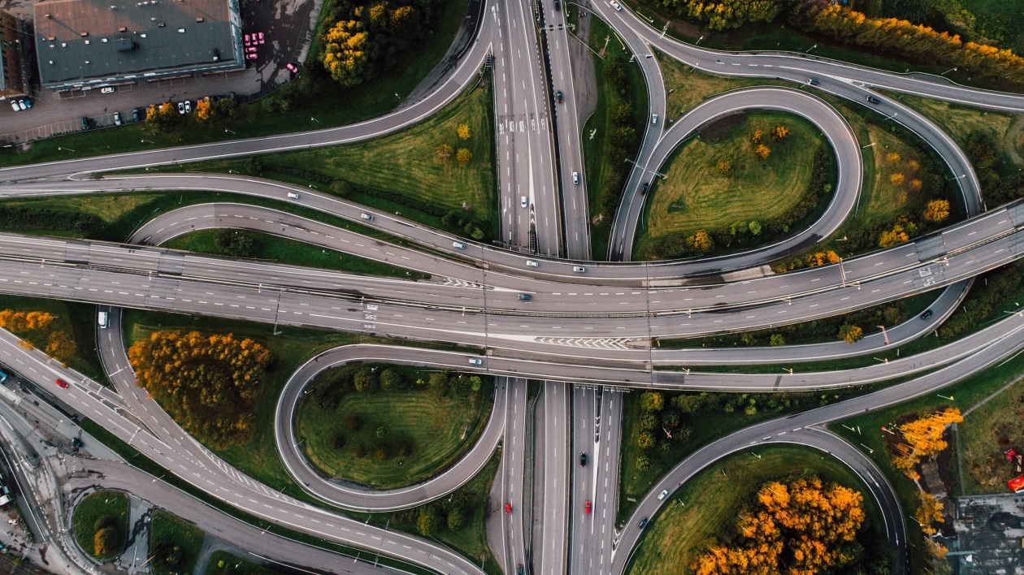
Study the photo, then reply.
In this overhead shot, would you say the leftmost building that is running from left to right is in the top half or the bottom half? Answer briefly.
top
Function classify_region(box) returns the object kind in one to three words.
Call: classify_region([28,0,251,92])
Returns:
building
